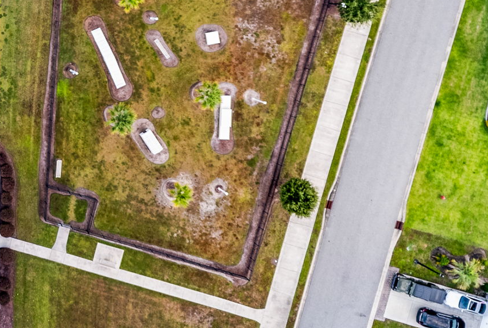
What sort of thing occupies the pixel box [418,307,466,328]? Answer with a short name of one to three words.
car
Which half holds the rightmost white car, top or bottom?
bottom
